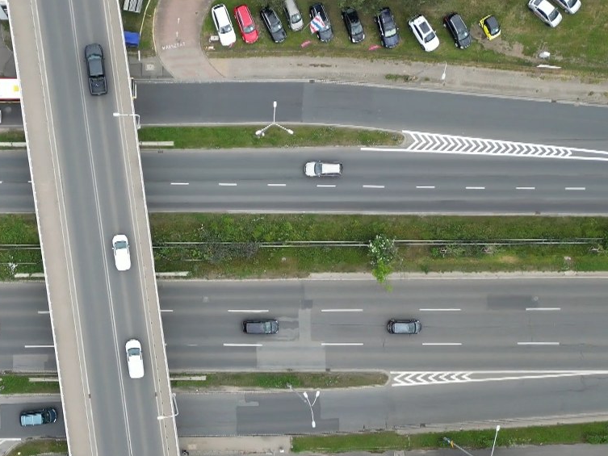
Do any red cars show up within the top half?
Yes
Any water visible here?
No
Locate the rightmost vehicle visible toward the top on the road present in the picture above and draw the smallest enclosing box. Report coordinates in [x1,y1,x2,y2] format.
[303,159,344,178]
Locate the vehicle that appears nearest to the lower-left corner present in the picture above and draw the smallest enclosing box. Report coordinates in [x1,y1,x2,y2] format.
[19,407,58,426]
